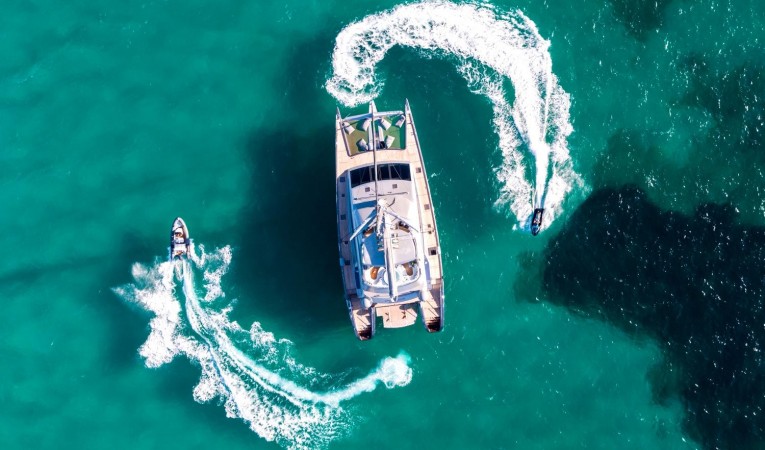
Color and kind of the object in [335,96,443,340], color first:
white boat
